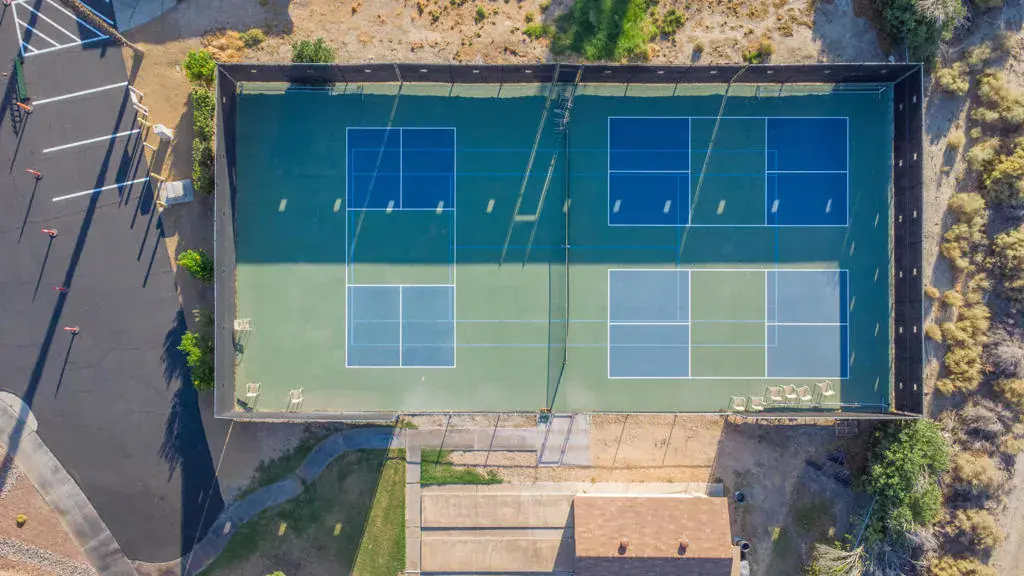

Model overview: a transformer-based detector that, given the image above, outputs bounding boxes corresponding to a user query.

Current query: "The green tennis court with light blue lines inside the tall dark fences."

[234,82,894,412]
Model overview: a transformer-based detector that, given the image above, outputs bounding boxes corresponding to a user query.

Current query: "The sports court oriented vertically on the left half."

[347,127,456,368]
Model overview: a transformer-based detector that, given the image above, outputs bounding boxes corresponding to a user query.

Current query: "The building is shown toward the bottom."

[573,495,741,576]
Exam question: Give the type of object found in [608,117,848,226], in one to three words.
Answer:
sports court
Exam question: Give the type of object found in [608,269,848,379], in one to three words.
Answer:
sports court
